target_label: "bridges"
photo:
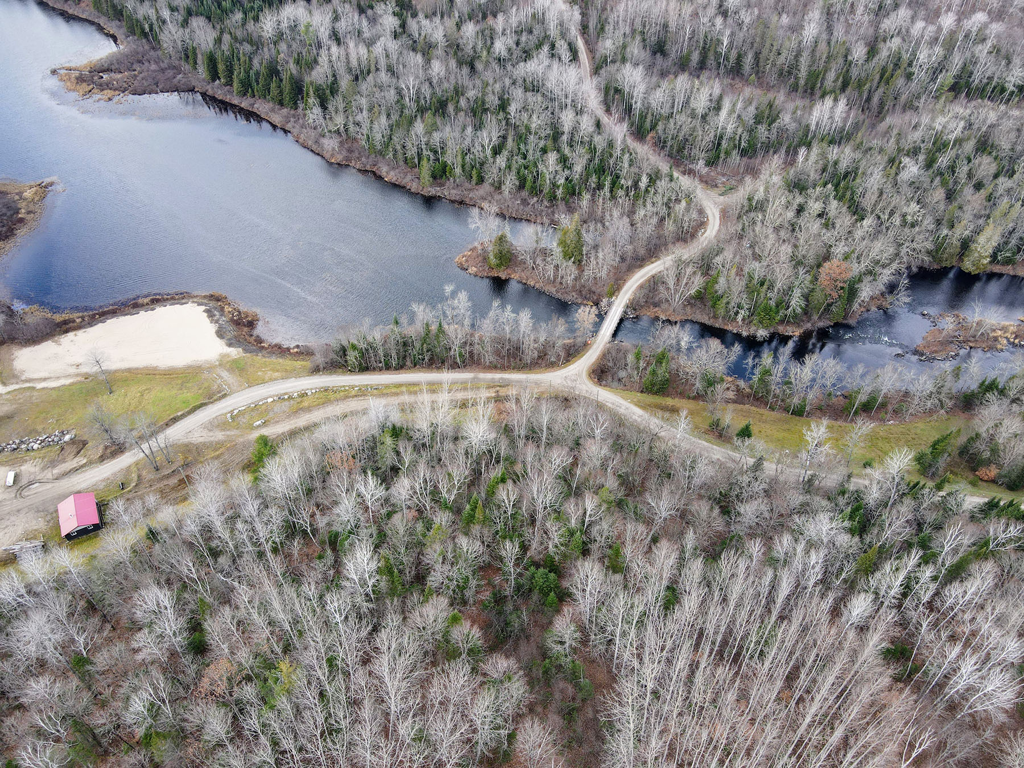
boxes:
[590,295,627,341]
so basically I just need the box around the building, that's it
[55,488,115,538]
